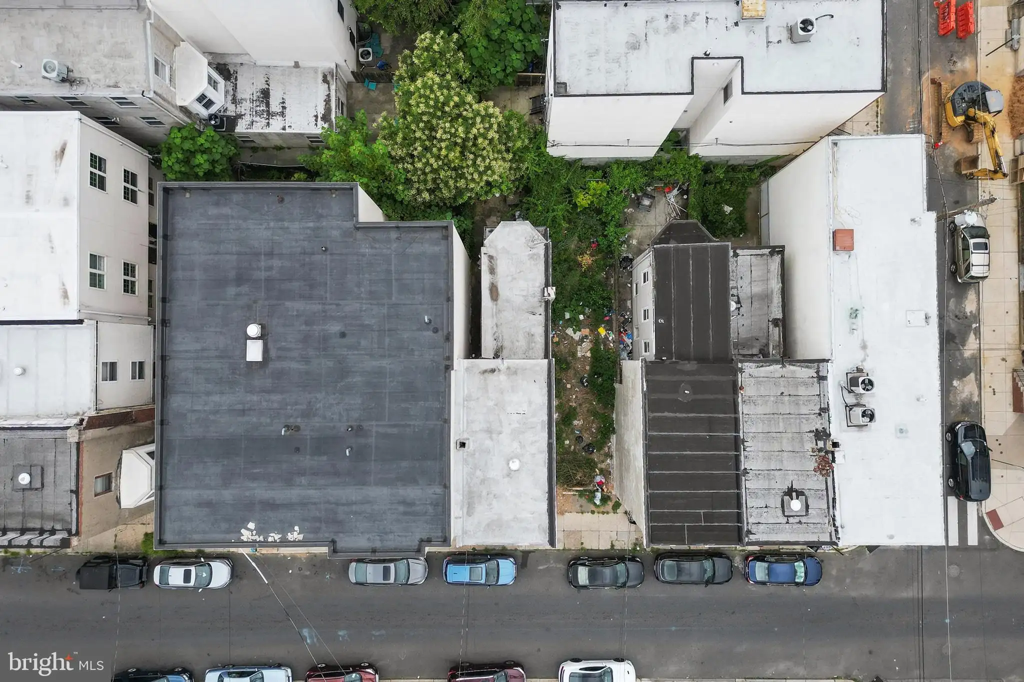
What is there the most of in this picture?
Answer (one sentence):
The scene is dominated by buildings.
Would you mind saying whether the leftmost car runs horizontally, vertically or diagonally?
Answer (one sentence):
From this overhead view, the leftmost car appears to run horizontally.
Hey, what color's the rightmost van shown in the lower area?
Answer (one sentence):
In this view, the rightmost van shown in the lower area is black.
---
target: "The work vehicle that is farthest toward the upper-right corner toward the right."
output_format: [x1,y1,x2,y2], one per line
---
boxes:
[936,85,1010,180]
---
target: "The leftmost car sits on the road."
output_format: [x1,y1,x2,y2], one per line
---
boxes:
[68,552,151,592]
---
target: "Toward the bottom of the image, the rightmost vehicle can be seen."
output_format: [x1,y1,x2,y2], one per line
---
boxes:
[943,420,991,504]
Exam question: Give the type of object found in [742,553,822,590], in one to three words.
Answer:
car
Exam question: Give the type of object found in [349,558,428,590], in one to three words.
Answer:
car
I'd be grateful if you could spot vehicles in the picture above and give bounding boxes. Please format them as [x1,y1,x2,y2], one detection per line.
[566,555,644,592]
[207,663,293,682]
[349,558,428,590]
[653,551,733,589]
[943,420,991,504]
[742,553,822,590]
[68,552,151,592]
[154,555,236,593]
[559,658,635,682]
[443,552,517,590]
[305,664,381,682]
[947,214,991,285]
[113,666,197,682]
[936,85,1010,180]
